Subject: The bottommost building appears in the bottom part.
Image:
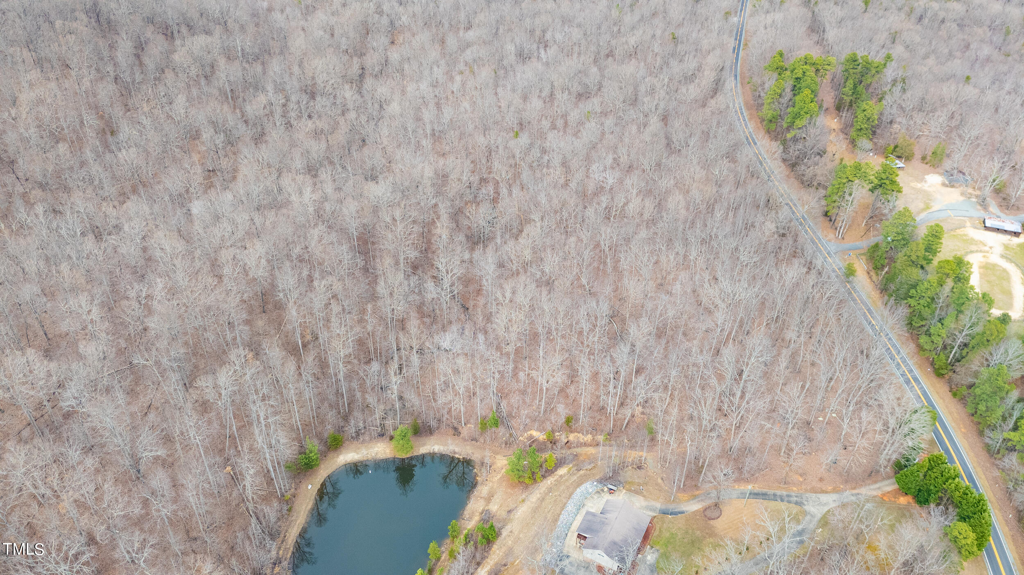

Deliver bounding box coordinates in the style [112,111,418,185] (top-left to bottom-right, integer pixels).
[576,499,648,575]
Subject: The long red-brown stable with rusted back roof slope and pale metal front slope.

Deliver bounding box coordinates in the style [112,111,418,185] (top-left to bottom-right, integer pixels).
[979,215,1021,237]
